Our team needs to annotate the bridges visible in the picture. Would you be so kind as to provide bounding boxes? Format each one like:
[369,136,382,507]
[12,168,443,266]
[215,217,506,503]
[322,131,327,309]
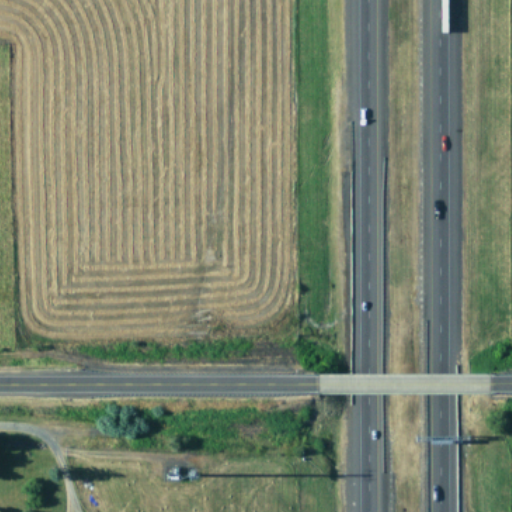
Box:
[320,374,491,394]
